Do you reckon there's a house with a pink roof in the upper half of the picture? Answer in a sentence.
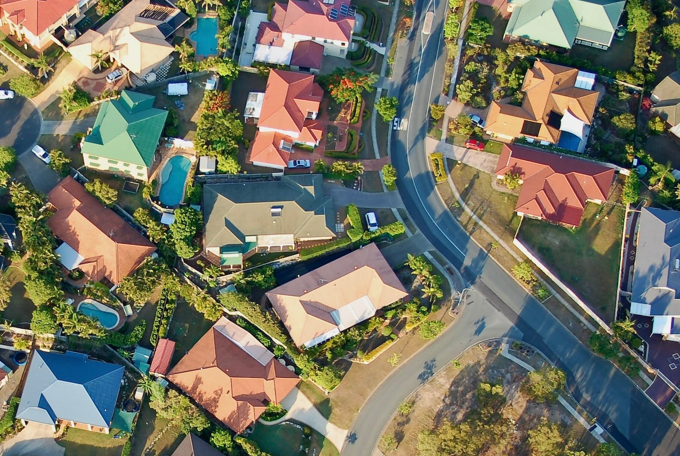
Yes, the scene does show a house with a pink roof in the upper half of the picture.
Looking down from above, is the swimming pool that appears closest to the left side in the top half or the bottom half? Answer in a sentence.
The swimming pool that appears closest to the left side is in the bottom half of the image.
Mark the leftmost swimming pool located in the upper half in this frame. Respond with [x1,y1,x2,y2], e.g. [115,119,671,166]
[156,153,194,208]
